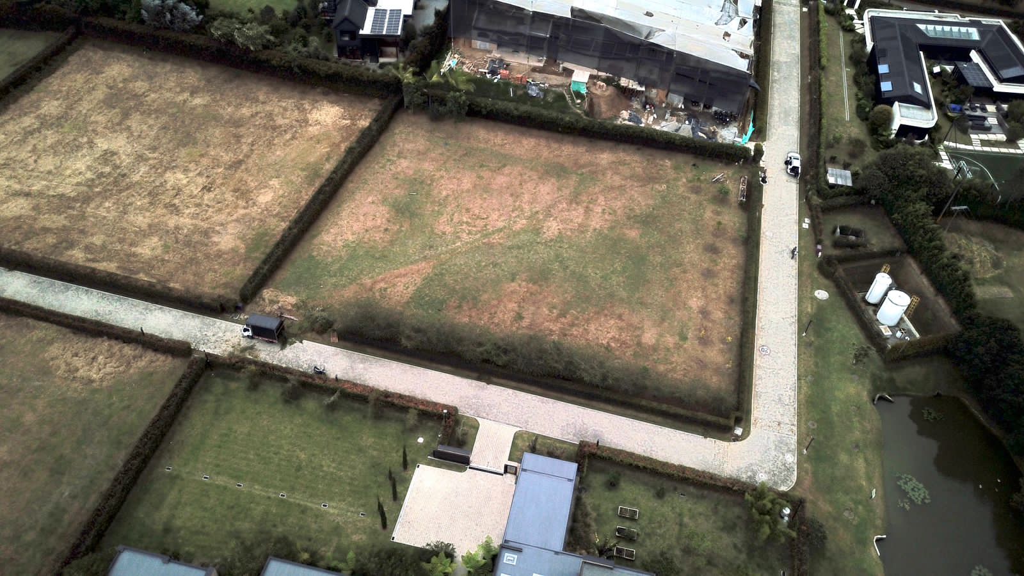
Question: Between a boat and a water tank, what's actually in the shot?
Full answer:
Visible in the photo is a water tank.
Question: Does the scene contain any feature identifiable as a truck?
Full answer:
Yes, a truck can be made out from above.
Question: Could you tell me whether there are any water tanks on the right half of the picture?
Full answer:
Yes, looking on the right half of the picture, one can make out a water tank.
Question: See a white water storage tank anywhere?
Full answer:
Yes, a white water storage tank appears in the view.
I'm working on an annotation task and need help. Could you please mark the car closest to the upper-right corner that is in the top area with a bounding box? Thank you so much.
[781,156,803,178]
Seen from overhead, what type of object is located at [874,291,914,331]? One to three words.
water tank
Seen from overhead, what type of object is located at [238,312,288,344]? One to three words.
truck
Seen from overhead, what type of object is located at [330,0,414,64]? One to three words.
house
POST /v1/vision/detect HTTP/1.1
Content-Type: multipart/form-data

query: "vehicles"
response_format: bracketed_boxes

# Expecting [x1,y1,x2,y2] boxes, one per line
[781,156,803,178]
[792,247,798,258]
[313,366,325,375]
[238,312,288,344]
